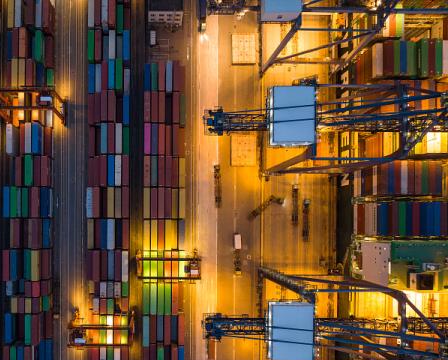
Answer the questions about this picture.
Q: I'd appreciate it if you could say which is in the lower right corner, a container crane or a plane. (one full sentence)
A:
The feature located in the lower right corner is a container crane.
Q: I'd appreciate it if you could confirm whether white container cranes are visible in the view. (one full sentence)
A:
No, I find no white container crane anywhere in the image.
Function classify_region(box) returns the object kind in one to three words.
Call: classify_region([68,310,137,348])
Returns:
container crane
